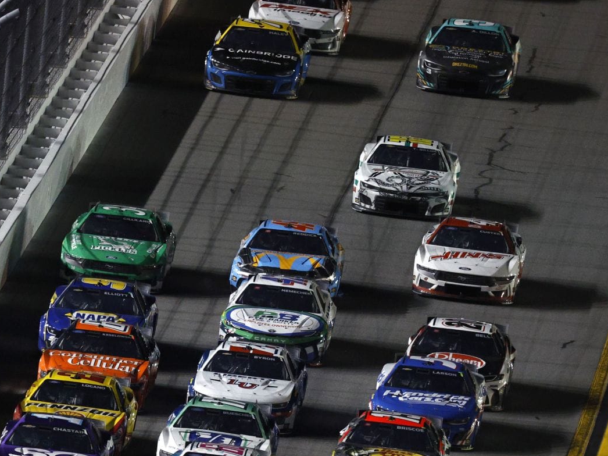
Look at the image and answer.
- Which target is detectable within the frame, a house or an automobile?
automobile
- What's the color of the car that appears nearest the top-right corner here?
black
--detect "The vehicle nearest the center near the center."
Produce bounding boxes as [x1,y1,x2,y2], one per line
[229,218,344,305]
